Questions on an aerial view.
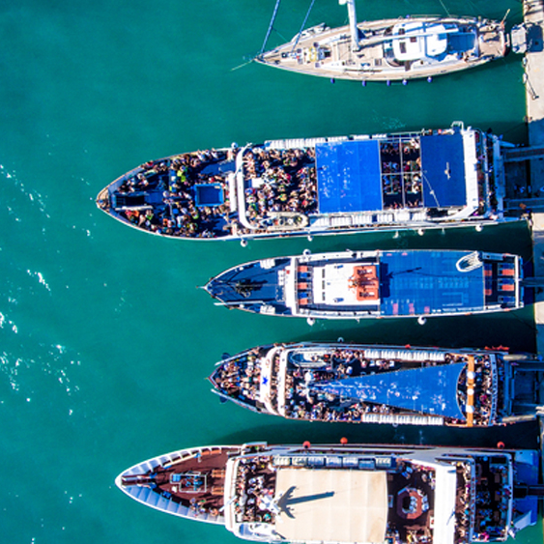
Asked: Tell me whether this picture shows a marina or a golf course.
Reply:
marina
